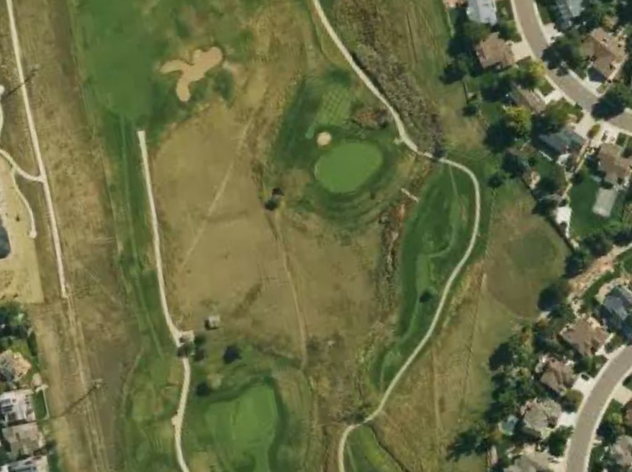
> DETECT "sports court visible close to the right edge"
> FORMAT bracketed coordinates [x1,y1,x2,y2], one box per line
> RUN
[593,187,616,217]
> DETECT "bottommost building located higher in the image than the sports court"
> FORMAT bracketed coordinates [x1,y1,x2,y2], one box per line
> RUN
[593,145,632,188]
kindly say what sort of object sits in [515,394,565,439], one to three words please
house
